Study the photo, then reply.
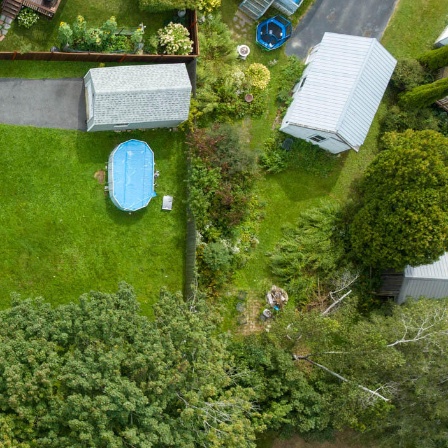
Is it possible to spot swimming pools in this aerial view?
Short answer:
Yes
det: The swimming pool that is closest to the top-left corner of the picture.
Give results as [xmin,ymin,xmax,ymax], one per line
[103,139,158,213]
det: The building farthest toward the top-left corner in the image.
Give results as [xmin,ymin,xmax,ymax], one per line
[85,63,192,130]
